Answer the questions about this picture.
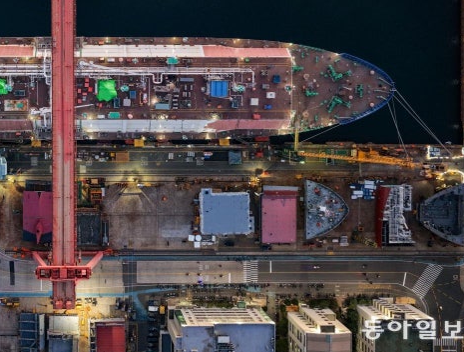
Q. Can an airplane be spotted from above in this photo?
No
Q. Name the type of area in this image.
port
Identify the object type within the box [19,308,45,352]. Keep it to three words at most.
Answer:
shed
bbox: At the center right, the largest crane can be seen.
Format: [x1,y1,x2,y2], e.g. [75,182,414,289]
[285,145,419,169]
